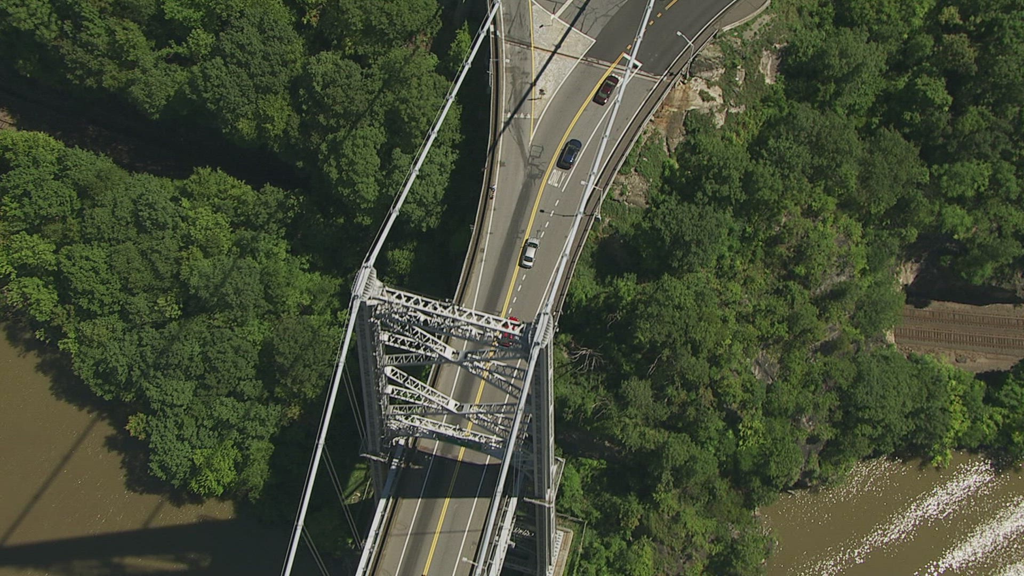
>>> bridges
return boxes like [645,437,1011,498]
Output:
[281,0,682,576]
